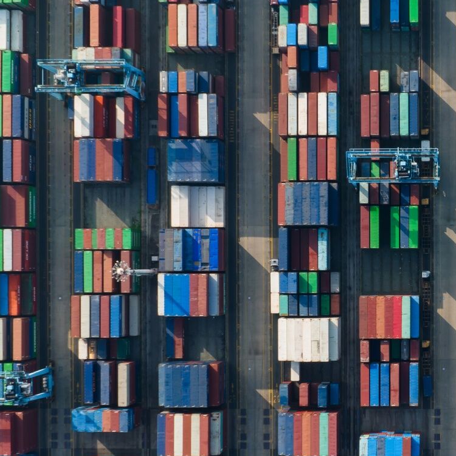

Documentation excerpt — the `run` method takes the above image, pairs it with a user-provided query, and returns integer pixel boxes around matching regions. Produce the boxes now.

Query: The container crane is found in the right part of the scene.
[344,150,444,191]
